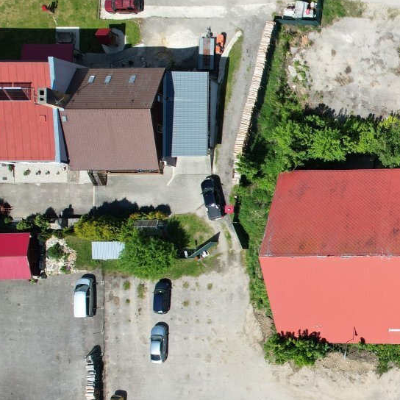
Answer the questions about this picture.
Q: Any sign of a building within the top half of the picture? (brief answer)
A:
Yes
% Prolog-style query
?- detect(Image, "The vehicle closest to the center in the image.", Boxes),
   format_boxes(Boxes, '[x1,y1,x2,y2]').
[200,175,224,220]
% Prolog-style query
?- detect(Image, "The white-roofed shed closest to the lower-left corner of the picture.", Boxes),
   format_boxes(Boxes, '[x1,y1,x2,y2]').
[91,241,121,260]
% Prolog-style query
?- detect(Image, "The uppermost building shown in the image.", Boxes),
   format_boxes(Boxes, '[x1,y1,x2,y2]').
[95,29,122,49]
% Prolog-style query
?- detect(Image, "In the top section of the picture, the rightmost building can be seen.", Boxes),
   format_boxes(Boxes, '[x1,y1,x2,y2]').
[166,70,218,162]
